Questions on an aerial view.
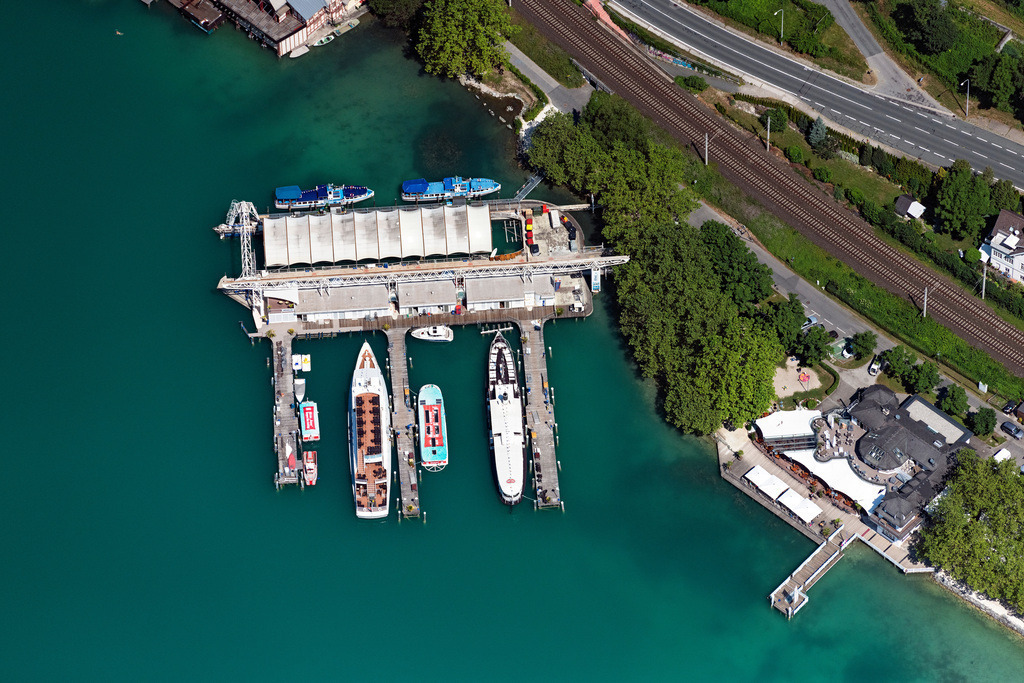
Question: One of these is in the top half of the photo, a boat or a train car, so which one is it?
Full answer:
The feature located in the top half of the photo is a boat.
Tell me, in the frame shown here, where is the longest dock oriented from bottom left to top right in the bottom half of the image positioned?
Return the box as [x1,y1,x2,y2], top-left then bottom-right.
[770,541,845,623]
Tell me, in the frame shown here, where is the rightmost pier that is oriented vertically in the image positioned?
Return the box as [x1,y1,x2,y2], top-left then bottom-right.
[514,319,559,508]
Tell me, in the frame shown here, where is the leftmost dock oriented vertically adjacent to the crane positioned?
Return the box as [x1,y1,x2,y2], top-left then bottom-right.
[262,336,300,484]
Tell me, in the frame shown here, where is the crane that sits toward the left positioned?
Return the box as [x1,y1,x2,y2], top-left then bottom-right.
[224,197,261,303]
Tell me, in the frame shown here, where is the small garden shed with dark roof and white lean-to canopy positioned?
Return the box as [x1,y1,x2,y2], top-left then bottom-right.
[896,193,926,219]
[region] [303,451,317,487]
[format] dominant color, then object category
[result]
white boat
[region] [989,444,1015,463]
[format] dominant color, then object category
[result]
white vehicle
